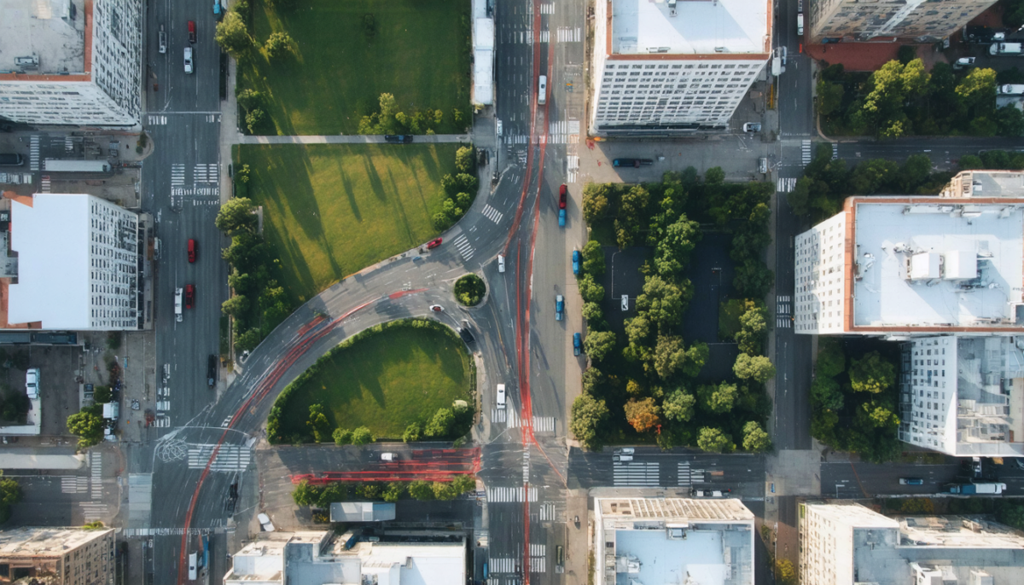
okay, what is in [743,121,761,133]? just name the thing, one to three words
vehicle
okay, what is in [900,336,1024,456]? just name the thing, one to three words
building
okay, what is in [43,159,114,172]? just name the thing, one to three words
vehicle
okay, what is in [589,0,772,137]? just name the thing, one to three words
building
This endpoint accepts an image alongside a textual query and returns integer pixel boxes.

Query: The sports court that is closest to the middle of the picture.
[604,245,653,322]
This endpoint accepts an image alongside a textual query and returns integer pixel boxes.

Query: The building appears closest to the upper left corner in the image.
[0,0,141,129]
